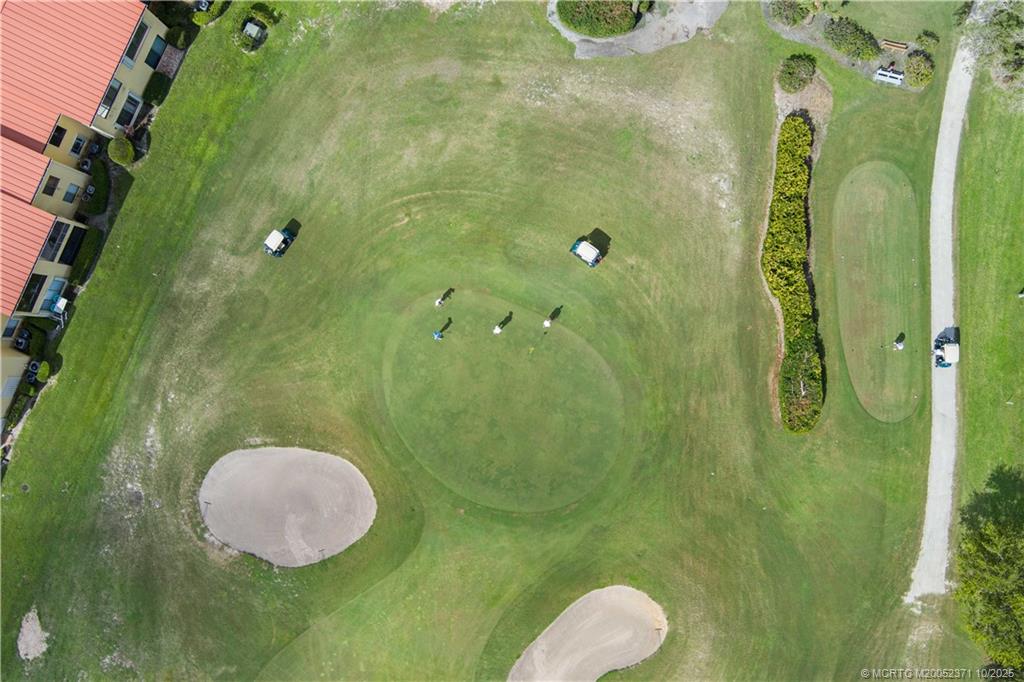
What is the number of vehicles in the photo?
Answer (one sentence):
In total, 3 vehicles can be seen.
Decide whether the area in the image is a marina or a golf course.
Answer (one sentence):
The area seen from above is a golf course.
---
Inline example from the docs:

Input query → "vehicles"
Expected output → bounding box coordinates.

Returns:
[573,241,600,265]
[265,231,292,258]
[935,339,959,365]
